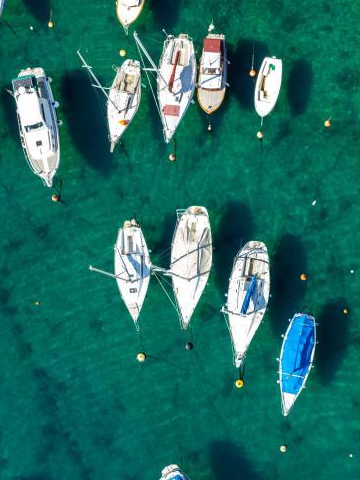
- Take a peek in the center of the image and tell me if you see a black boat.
No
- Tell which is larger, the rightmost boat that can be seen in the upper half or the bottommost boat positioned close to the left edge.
the bottommost boat positioned close to the left edge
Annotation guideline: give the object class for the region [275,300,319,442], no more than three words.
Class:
boat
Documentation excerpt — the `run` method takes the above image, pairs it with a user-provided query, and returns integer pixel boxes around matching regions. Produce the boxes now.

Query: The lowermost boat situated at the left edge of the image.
[3,68,69,194]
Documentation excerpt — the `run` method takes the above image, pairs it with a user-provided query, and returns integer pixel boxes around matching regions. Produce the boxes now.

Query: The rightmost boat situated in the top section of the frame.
[253,54,283,131]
